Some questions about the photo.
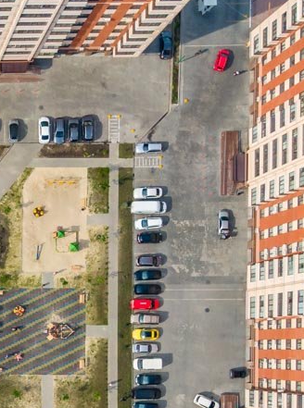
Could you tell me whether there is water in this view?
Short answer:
No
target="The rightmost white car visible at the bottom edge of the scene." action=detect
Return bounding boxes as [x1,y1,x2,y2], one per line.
[192,394,220,408]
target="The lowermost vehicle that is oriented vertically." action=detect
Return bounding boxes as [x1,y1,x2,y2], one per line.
[217,209,232,241]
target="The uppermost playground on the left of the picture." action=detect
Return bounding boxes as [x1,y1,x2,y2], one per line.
[23,167,88,273]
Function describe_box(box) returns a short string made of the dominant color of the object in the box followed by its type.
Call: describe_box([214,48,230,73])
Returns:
red car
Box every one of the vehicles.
[132,357,165,371]
[38,117,51,144]
[134,216,164,229]
[134,268,162,281]
[130,199,167,214]
[136,141,162,154]
[9,119,21,143]
[228,367,253,379]
[192,394,220,408]
[217,209,232,241]
[53,117,66,144]
[136,231,162,244]
[130,313,160,326]
[136,254,162,267]
[132,342,157,353]
[134,283,163,295]
[131,328,160,341]
[132,400,159,408]
[135,373,162,386]
[160,31,174,59]
[68,119,80,142]
[131,387,161,400]
[132,186,163,199]
[130,297,160,310]
[83,117,96,141]
[214,48,230,73]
